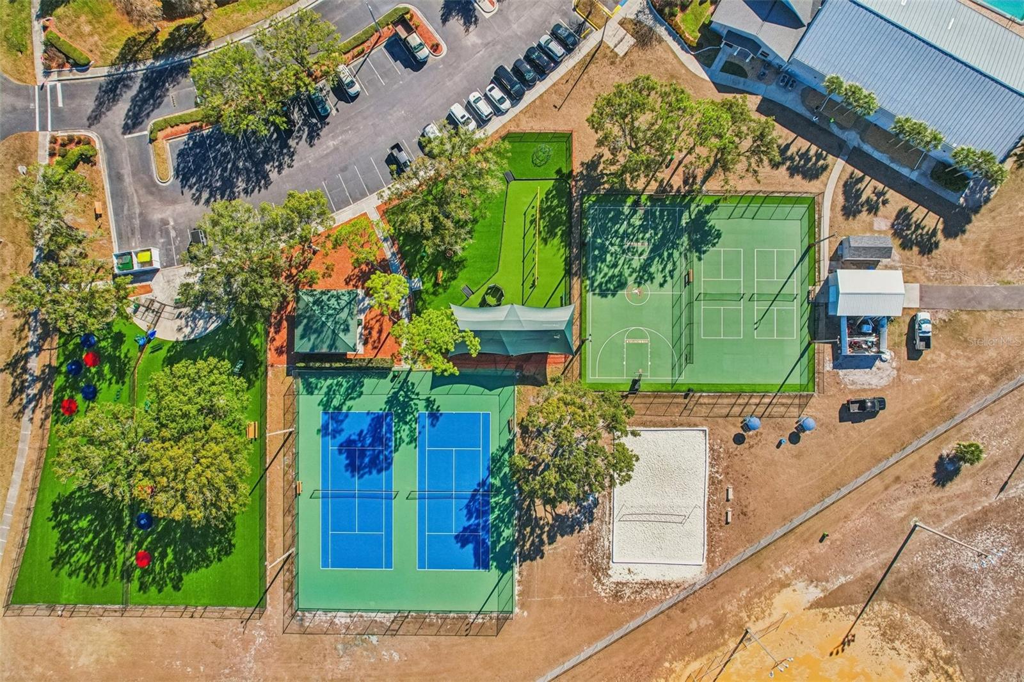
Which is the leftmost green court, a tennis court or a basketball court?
basketball court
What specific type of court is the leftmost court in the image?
tennis court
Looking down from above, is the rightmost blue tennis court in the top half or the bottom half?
bottom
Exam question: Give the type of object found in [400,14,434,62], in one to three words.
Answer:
truck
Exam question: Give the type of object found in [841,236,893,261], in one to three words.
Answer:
shed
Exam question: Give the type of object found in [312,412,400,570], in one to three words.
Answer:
tennis court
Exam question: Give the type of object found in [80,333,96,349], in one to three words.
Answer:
umbrella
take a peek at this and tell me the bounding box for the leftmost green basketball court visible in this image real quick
[589,206,685,380]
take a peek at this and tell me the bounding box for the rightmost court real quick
[754,249,800,339]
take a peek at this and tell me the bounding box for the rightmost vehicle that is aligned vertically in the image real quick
[913,312,932,351]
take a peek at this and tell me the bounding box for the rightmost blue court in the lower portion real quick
[410,412,497,571]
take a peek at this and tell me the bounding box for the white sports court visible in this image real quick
[612,429,708,565]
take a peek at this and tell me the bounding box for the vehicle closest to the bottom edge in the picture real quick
[844,397,886,413]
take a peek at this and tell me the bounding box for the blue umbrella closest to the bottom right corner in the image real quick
[802,418,815,431]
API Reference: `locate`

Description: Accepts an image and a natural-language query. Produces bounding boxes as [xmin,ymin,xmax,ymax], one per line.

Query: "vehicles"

[468,91,495,122]
[485,83,511,114]
[844,397,886,413]
[551,22,580,50]
[337,64,362,98]
[449,101,477,132]
[493,64,525,100]
[400,14,434,62]
[309,88,332,119]
[525,47,554,75]
[391,143,416,180]
[511,57,538,87]
[539,35,567,63]
[913,312,932,351]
